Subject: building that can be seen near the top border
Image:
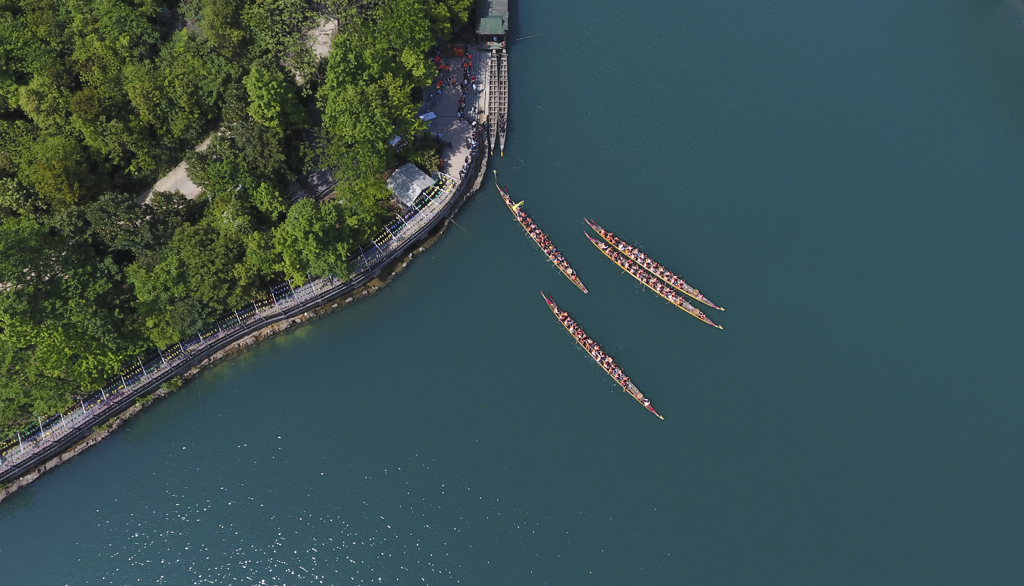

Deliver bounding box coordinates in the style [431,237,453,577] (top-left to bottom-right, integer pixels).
[476,0,509,52]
